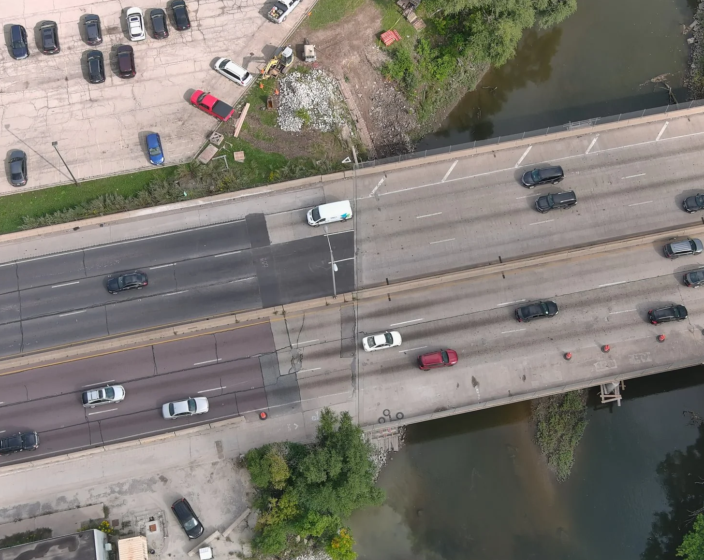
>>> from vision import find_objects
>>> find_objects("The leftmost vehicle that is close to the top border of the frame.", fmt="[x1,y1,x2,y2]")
[7,22,30,60]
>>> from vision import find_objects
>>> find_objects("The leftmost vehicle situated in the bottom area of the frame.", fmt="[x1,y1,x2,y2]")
[0,432,40,458]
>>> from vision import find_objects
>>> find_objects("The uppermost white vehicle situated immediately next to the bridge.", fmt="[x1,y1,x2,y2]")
[306,196,353,227]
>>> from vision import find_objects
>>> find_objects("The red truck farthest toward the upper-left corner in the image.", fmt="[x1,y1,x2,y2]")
[188,91,236,123]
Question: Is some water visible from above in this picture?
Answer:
Yes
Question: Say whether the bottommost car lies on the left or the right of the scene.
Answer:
left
